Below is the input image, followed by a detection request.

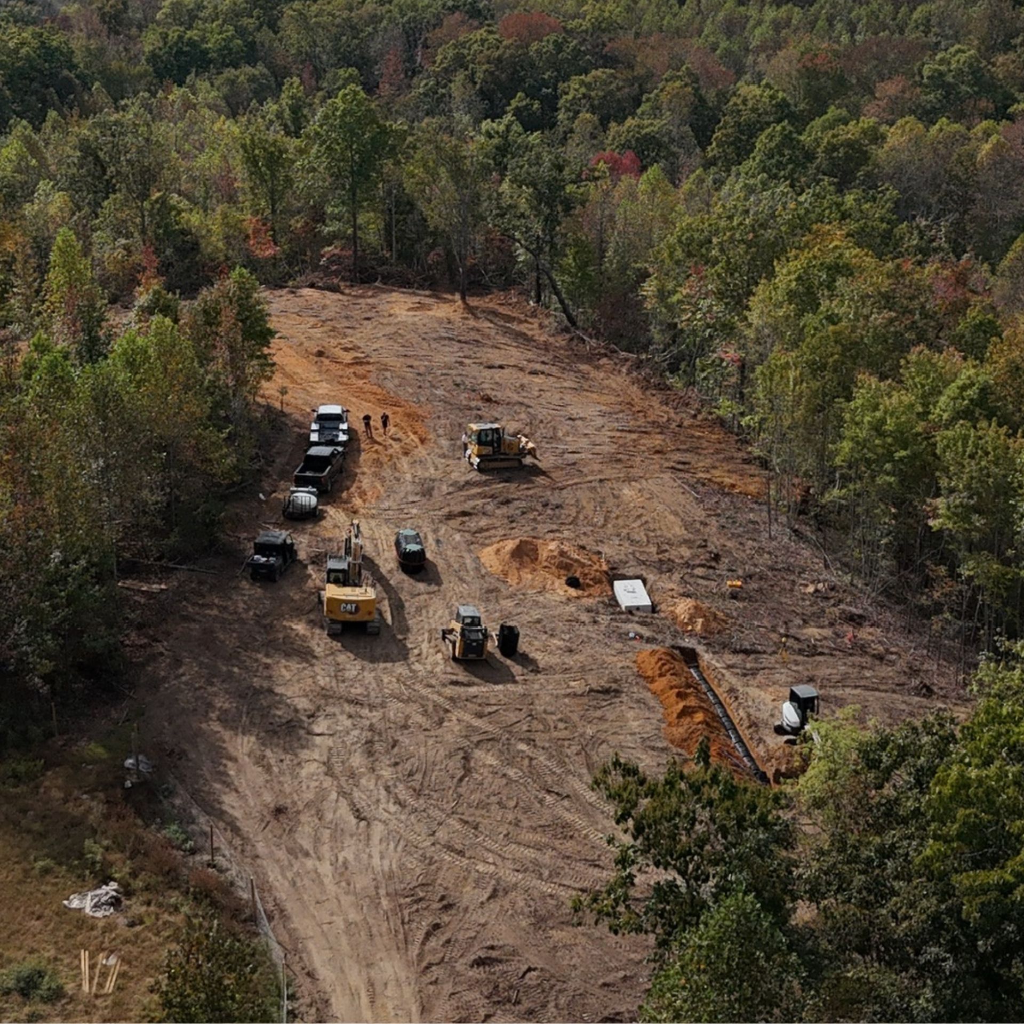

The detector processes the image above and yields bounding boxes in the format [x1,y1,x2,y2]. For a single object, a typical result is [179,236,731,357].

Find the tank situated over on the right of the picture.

[613,578,653,613]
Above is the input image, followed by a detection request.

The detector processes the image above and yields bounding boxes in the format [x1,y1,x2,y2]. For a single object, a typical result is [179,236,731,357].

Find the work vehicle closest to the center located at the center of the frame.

[462,418,542,473]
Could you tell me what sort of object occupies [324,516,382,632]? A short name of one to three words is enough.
work vehicle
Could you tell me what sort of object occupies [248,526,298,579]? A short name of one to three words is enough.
vehicle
